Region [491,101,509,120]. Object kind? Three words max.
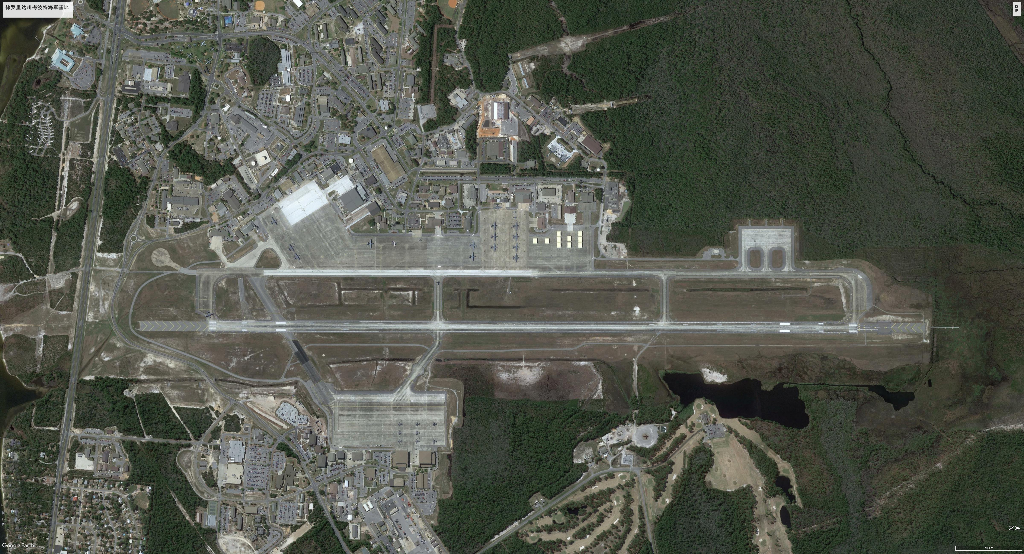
hangar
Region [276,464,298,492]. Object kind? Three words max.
building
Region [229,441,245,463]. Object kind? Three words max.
building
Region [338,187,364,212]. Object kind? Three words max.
hangar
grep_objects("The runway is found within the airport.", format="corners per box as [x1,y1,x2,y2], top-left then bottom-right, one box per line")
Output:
[209,321,857,333]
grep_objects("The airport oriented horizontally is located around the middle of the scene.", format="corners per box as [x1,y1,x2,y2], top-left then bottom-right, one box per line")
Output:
[140,175,925,465]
